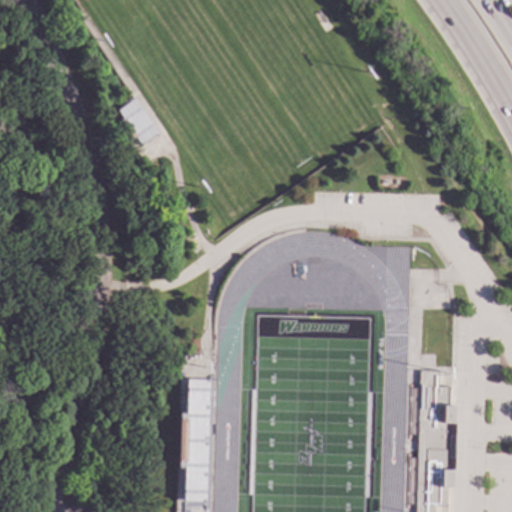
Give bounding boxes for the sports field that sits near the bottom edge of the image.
[238,308,384,512]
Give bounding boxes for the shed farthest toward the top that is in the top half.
[120,99,159,143]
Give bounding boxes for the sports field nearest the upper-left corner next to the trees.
[80,0,385,241]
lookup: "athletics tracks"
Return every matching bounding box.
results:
[212,232,412,512]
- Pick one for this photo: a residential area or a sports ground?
sports ground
